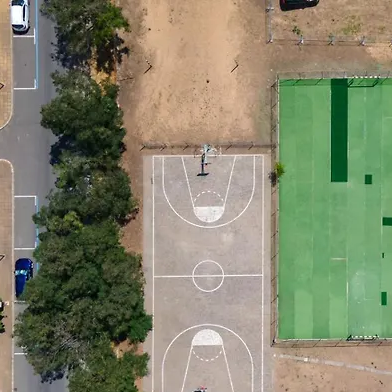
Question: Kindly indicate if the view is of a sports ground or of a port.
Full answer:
What you see here is a sports ground.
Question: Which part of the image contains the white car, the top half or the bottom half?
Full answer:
It is in the top half that the white car appears.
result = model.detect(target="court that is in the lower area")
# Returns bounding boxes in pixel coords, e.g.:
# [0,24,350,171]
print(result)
[143,152,272,392]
